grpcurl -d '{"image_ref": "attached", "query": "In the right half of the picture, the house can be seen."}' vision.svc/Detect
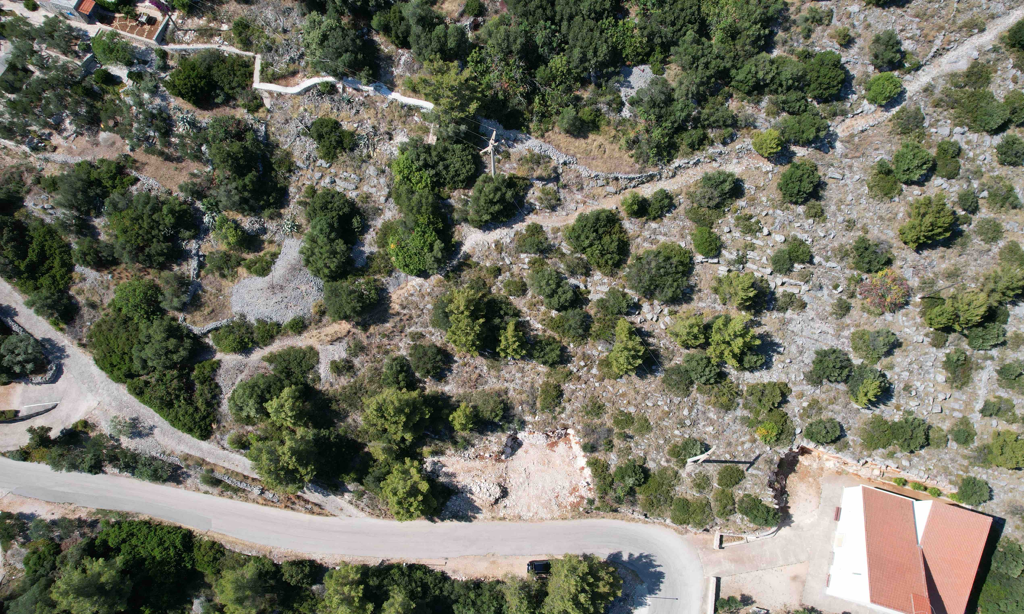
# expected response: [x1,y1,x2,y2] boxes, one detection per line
[830,484,994,614]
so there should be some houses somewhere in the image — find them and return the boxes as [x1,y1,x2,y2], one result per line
[22,0,94,24]
[830,484,994,614]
